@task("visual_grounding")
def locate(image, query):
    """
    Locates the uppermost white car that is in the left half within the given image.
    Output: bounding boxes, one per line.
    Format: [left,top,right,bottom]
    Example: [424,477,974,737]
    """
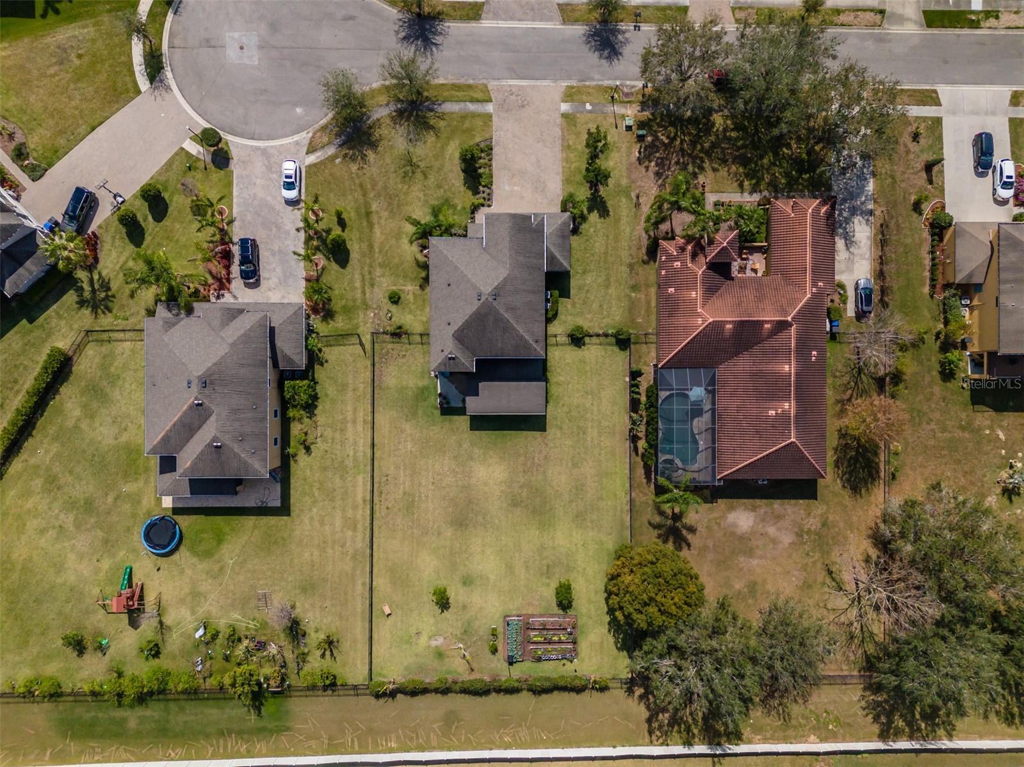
[279,161,302,204]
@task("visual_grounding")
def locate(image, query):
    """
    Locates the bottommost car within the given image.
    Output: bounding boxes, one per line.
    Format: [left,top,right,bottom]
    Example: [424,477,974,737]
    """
[850,278,875,323]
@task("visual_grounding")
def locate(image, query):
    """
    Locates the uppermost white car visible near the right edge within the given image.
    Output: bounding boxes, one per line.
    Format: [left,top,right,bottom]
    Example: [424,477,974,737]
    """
[988,159,1014,202]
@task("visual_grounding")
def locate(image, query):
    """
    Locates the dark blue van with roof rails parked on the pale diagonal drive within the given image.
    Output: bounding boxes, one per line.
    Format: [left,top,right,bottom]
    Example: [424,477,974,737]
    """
[62,181,98,232]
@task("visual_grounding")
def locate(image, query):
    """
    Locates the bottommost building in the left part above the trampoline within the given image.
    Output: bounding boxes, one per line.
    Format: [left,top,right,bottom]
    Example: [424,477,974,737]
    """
[144,302,307,496]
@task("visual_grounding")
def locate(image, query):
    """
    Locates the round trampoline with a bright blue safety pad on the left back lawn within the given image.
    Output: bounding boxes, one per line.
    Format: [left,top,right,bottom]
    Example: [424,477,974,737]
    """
[141,519,181,557]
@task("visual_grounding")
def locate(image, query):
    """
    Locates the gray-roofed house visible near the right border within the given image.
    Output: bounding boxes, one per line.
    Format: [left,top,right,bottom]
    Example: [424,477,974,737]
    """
[943,221,1024,358]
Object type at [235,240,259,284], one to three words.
car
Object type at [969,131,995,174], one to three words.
car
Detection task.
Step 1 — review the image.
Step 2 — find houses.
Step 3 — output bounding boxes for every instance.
[429,209,570,388]
[658,194,837,479]
[943,221,1024,358]
[0,183,68,303]
[144,302,307,496]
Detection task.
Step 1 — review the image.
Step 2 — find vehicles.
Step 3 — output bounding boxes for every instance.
[235,240,259,284]
[988,159,1014,202]
[850,278,875,323]
[279,161,302,204]
[62,181,98,232]
[969,131,995,174]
